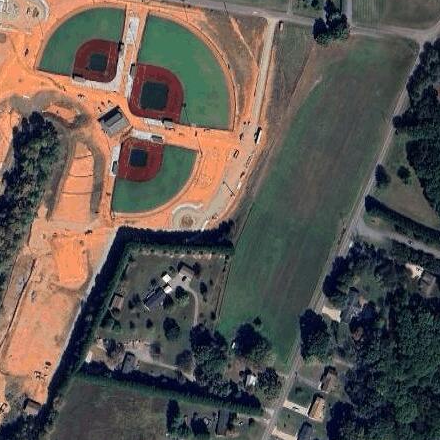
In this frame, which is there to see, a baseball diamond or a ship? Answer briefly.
baseball diamond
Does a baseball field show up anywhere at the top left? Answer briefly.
Yes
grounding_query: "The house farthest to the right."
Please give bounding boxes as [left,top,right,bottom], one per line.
[416,268,438,291]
